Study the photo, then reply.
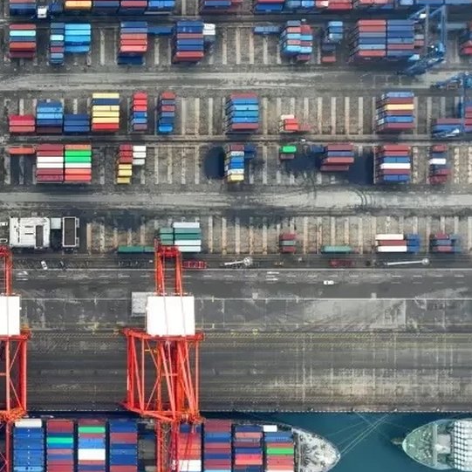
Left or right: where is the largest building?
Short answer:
left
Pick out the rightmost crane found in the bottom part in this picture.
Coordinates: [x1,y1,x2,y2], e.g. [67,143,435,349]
[116,245,206,472]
